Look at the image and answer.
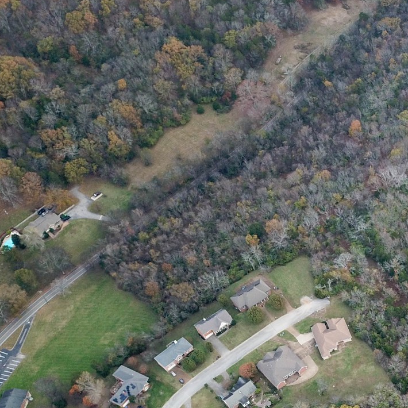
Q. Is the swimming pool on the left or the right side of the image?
left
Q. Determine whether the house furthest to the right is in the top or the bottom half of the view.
bottom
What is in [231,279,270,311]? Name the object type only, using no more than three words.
house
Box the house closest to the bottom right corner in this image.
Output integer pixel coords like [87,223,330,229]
[311,318,352,355]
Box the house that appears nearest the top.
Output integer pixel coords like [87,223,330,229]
[24,213,60,240]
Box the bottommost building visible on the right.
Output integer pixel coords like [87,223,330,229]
[222,376,272,408]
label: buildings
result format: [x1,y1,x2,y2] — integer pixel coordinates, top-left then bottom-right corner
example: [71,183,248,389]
[154,337,195,372]
[311,318,352,355]
[110,365,149,408]
[231,279,270,311]
[194,309,231,340]
[222,376,272,408]
[0,387,32,408]
[24,213,60,240]
[257,346,309,388]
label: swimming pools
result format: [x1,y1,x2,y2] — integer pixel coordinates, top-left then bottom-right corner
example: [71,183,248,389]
[0,231,21,253]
